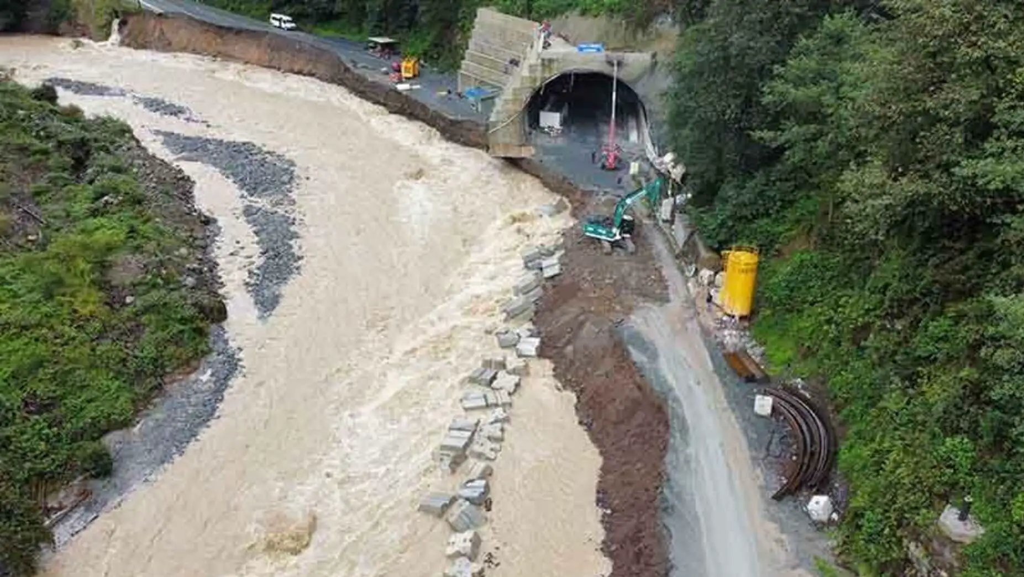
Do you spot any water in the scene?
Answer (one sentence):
Yes, water shows up in the scene.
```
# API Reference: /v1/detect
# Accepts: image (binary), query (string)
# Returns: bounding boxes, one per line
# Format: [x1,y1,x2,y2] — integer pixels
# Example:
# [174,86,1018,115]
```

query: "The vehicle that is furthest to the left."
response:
[270,14,295,30]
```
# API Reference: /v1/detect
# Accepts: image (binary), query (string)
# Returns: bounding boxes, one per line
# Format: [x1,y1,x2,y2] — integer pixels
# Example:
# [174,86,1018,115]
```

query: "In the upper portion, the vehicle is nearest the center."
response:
[585,183,667,255]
